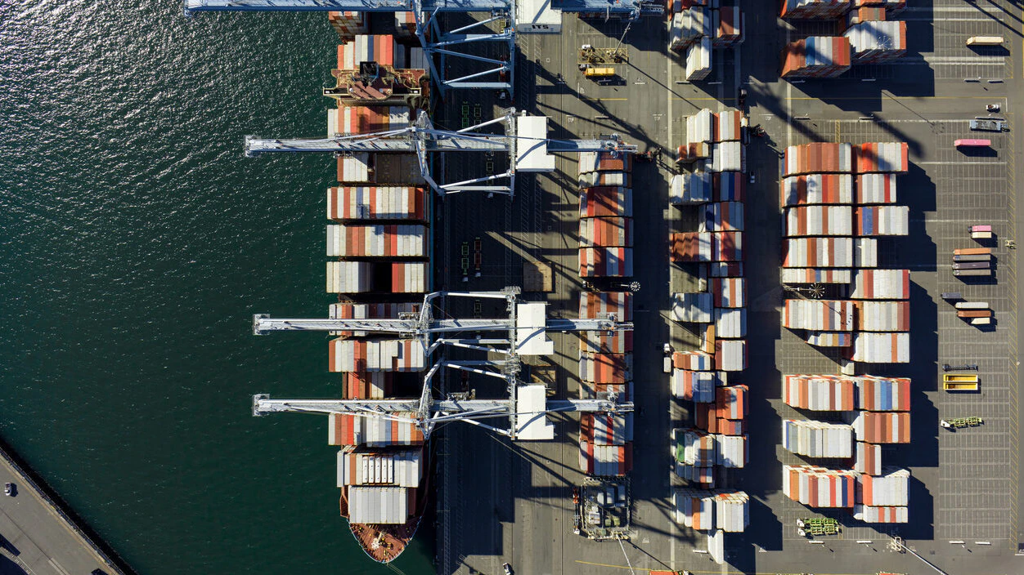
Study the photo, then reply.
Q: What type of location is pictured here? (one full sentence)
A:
The picture captures a port.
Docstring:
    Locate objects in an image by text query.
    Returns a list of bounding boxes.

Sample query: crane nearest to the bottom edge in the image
[252,350,634,440]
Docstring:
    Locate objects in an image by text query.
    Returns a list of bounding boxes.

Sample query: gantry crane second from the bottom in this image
[253,283,634,356]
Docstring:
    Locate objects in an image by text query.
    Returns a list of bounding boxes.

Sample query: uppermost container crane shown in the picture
[180,0,656,108]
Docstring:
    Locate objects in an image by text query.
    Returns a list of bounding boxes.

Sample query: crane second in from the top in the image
[246,101,638,206]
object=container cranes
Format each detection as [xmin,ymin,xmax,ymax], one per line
[253,283,634,356]
[180,0,656,108]
[252,350,634,440]
[246,101,638,206]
